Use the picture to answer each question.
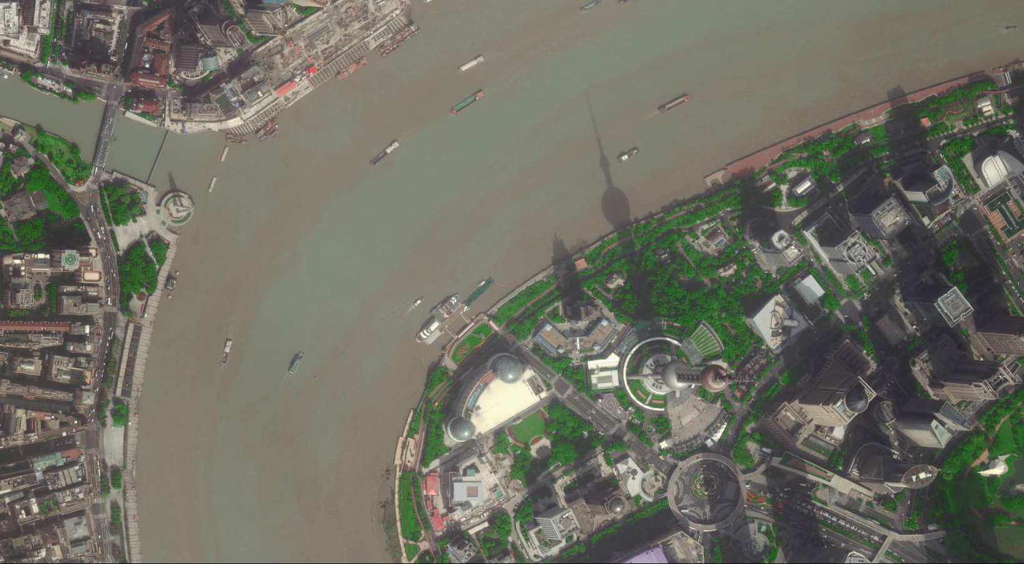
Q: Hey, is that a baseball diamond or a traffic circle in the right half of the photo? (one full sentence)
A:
You can see a traffic circle in the right half of the photo.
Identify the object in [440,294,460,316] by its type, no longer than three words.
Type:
ship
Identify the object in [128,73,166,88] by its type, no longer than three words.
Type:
building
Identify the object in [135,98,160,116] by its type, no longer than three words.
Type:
house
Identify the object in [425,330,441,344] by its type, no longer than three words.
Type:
ship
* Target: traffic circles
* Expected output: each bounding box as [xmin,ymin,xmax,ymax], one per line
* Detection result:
[675,460,738,524]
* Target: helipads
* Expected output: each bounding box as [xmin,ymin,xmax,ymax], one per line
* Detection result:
[62,250,79,268]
